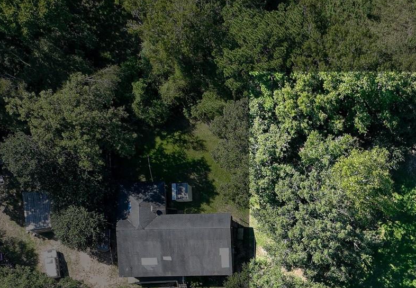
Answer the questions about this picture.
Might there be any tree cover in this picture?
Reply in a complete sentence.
Yes, tree cover shows up in the scene.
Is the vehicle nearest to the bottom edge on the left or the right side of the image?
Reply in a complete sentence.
The vehicle nearest to the bottom edge sits on the left side.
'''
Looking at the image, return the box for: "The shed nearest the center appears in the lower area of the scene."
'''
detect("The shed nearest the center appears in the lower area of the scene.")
[173,182,194,203]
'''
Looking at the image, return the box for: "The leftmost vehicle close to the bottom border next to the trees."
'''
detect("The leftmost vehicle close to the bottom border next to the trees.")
[44,247,68,284]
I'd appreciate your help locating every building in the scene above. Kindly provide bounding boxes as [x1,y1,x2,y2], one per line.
[112,183,234,288]
[22,192,59,233]
[173,182,194,203]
